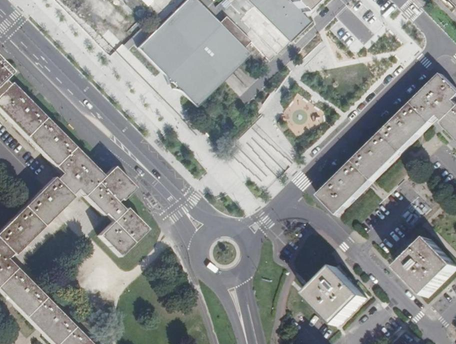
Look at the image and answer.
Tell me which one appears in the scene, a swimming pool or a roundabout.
roundabout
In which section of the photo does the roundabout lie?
bottom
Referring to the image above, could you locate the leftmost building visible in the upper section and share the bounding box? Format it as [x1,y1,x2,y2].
[0,50,110,199]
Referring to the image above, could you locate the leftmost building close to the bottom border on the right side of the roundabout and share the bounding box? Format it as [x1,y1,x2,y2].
[300,265,366,327]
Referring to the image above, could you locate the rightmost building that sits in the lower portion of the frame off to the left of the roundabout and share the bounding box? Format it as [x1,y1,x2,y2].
[86,167,158,258]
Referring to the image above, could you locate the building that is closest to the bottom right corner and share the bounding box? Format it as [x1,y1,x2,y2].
[390,236,456,299]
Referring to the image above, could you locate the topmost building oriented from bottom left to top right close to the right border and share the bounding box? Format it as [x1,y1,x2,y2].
[314,73,456,217]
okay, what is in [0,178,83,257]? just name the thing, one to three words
building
